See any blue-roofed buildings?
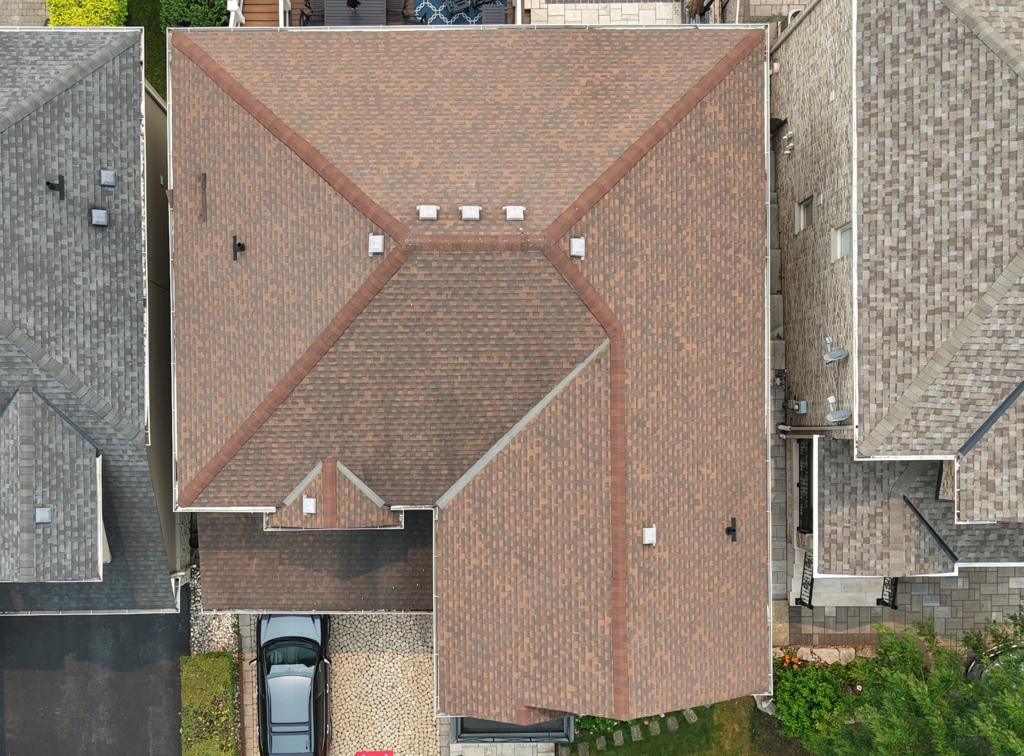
No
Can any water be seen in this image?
No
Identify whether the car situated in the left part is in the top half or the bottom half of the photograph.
bottom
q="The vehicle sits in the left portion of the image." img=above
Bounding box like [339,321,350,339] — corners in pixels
[250,614,336,756]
